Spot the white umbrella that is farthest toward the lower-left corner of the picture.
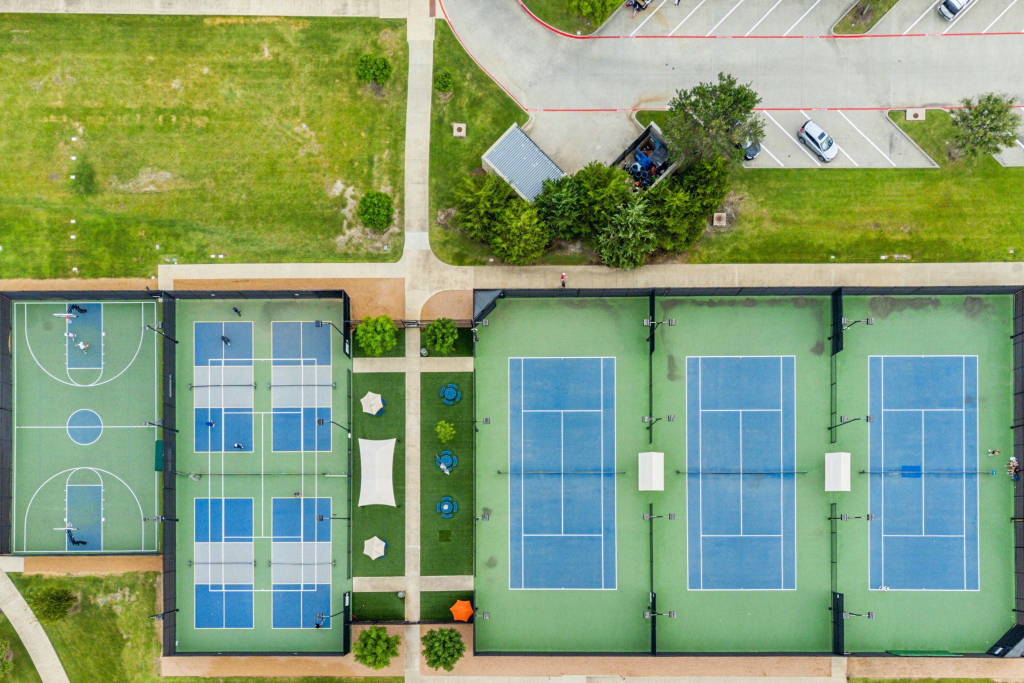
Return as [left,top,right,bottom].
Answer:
[364,537,385,560]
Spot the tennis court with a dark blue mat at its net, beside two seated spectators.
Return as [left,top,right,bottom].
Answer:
[832,295,1017,653]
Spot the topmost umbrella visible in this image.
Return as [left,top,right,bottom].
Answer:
[361,392,384,415]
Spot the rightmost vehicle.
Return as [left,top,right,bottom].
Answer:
[937,0,971,22]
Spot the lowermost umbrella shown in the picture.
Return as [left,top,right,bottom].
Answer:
[450,600,473,622]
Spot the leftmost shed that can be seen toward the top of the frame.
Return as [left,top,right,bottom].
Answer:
[482,122,567,207]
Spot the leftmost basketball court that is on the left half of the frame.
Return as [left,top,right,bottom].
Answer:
[11,299,158,554]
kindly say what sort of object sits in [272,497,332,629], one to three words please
sports court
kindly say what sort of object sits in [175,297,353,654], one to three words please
tennis court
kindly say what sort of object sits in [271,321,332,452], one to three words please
sports court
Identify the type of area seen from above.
sports ground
